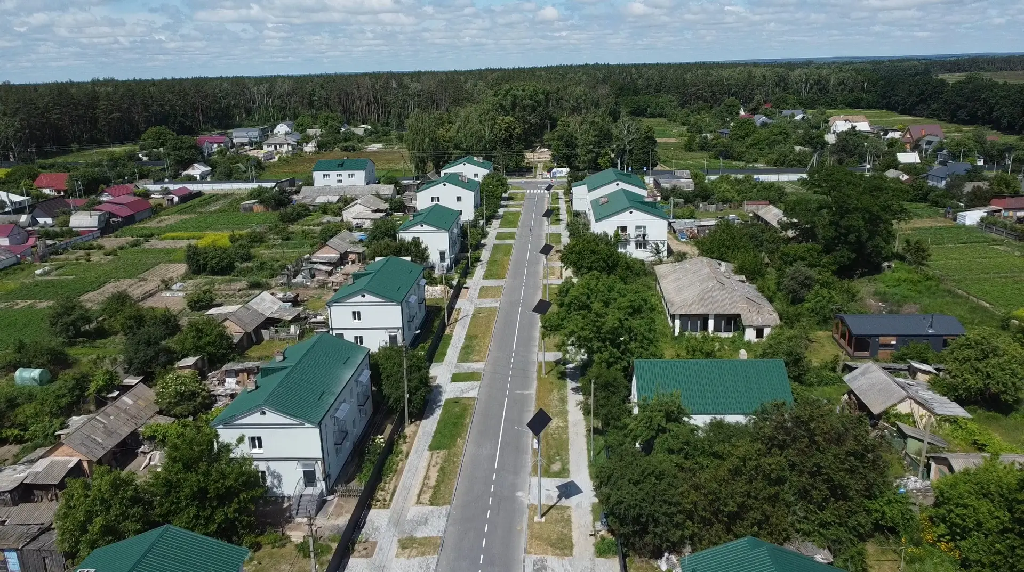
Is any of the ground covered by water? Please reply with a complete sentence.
No, there is no water in the image.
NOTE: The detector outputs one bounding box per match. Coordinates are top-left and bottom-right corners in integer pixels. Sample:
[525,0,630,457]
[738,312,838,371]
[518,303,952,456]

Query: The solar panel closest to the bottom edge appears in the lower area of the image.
[525,410,551,441]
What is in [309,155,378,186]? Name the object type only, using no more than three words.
house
